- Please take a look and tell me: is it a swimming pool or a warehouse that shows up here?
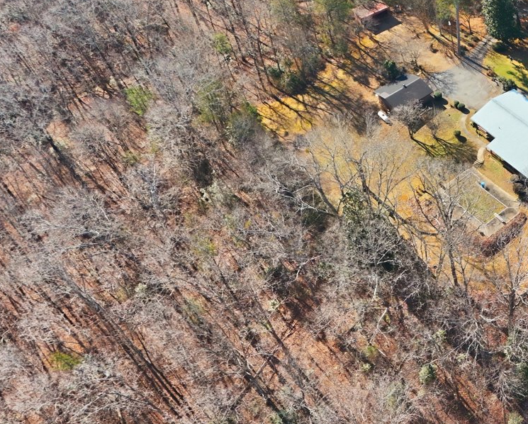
swimming pool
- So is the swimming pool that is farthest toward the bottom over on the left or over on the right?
right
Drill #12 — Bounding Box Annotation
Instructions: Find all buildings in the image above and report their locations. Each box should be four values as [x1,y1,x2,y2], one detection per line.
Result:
[352,0,391,28]
[470,90,528,183]
[375,73,433,121]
